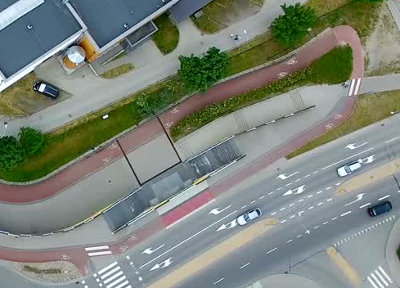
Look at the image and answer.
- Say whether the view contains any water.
No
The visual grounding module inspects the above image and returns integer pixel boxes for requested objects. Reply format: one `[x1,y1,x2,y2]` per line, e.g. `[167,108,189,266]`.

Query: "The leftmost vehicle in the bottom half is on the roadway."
[236,207,263,225]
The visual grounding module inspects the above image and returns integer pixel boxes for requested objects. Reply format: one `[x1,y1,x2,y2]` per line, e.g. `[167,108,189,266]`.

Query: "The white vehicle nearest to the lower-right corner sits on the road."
[336,159,363,176]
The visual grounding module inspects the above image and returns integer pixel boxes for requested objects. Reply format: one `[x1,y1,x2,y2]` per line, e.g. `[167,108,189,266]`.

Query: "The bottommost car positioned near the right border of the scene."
[365,201,394,217]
